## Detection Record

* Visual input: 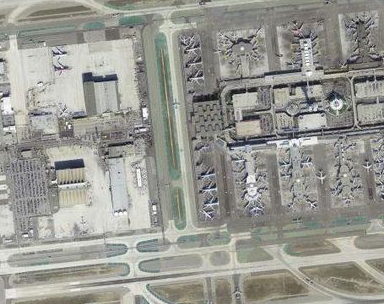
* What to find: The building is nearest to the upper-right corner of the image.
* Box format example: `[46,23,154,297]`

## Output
[325,22,383,75]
